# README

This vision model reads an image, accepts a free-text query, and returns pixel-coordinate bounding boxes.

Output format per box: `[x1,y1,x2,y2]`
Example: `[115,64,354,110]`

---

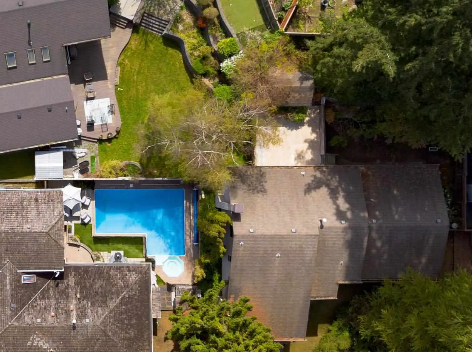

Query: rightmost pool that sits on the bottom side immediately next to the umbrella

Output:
[79,183,201,281]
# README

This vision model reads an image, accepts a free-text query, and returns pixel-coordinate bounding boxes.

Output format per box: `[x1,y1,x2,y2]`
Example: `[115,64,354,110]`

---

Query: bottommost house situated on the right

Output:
[213,165,449,342]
